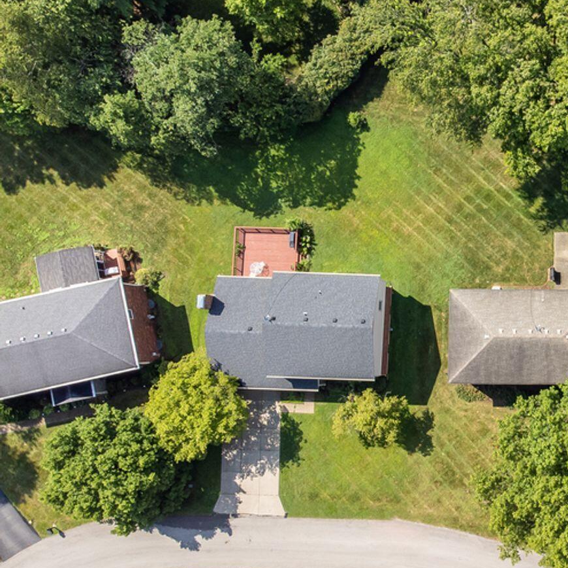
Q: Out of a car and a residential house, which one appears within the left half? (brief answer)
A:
residential house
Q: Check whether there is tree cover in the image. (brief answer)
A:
Yes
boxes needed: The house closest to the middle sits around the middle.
[196,270,391,391]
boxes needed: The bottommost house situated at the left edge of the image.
[0,275,161,409]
